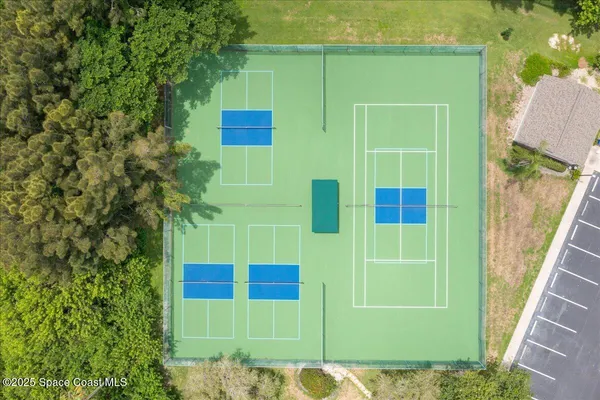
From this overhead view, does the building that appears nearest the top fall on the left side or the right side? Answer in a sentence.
The building that appears nearest the top is on the right side of the image.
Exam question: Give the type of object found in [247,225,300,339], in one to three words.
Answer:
sports court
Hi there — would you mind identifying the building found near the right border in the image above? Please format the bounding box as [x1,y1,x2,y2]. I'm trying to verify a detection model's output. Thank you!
[509,75,600,171]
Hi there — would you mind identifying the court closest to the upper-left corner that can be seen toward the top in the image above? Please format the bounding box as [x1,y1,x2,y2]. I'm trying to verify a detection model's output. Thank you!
[220,71,273,185]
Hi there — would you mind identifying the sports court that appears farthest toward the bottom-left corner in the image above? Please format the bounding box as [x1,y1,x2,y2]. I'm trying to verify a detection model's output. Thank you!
[182,224,234,339]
